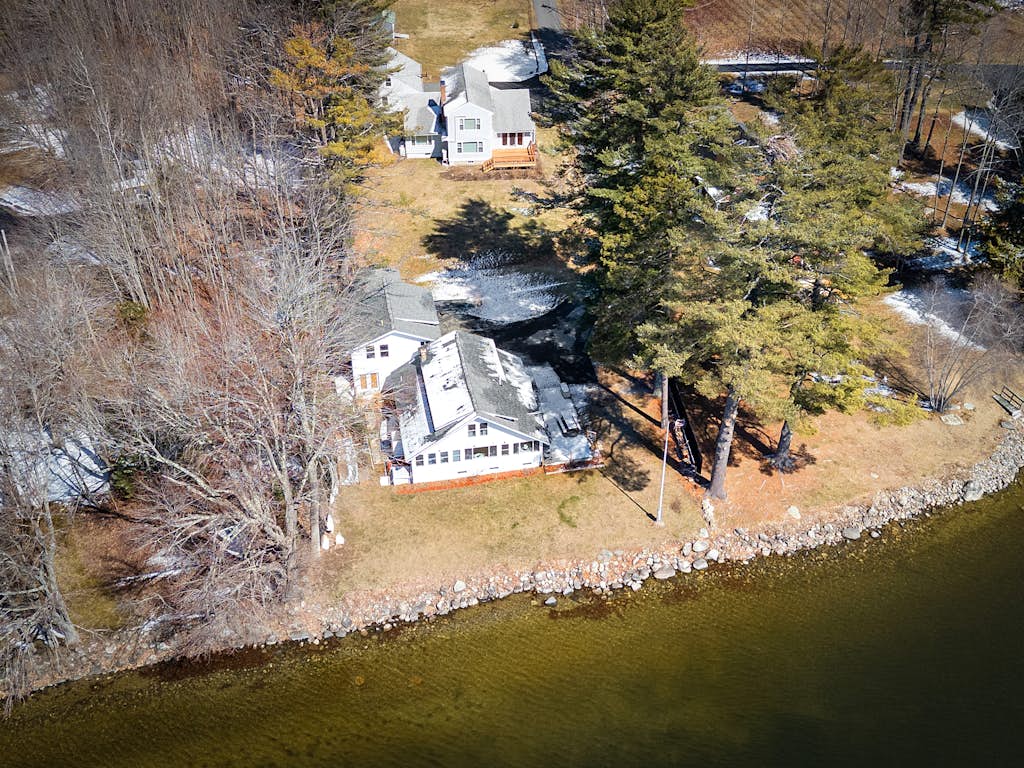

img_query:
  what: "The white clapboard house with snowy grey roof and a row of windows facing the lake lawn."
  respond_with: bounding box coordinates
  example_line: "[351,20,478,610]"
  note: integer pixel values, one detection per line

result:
[379,335,549,486]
